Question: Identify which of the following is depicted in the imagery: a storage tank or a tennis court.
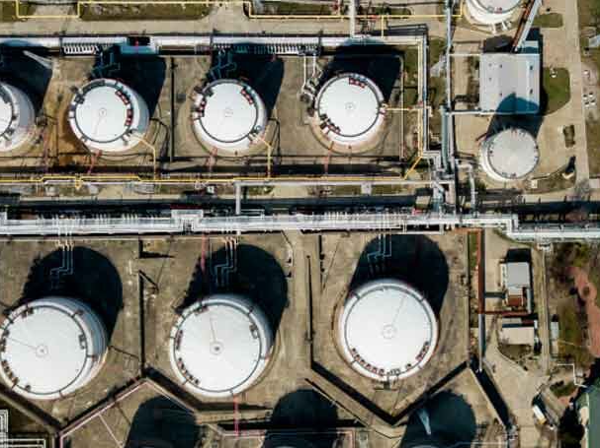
storage tank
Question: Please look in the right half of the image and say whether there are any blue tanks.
No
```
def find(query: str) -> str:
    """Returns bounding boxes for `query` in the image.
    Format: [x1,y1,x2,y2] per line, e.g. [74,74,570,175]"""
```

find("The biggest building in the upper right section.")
[479,54,539,112]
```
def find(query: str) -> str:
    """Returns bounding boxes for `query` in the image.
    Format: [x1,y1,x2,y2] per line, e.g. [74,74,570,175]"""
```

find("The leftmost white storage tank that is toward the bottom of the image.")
[0,292,111,402]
